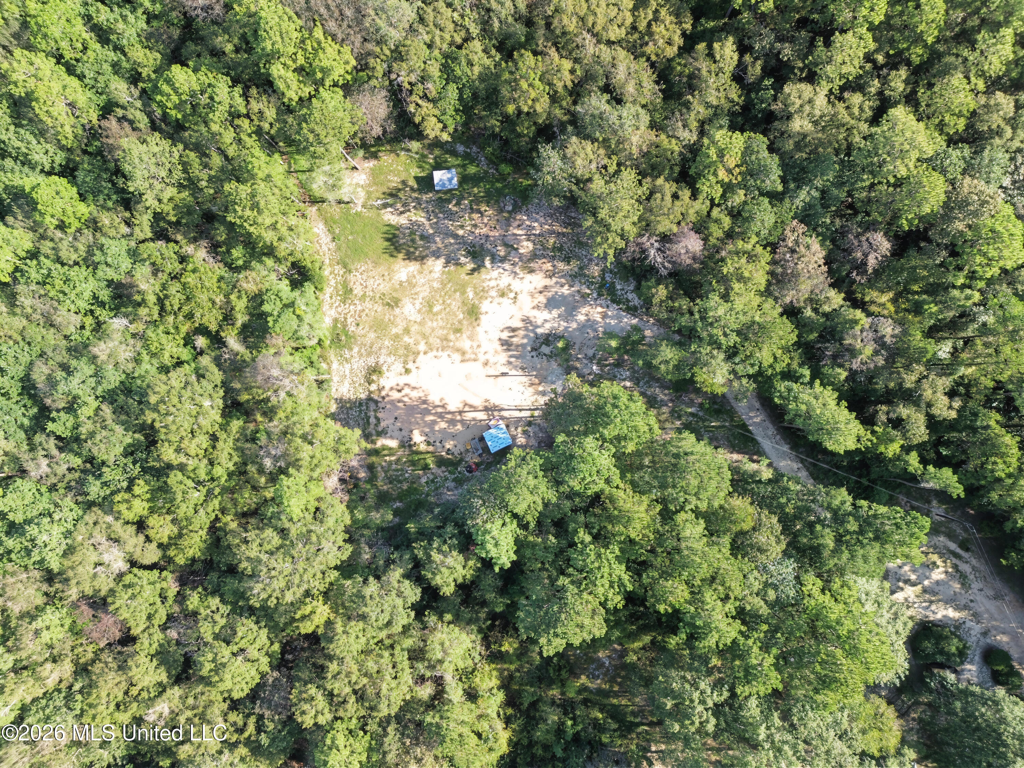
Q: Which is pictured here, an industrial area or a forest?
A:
forest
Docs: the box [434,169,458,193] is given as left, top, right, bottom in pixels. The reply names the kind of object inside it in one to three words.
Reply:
shed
